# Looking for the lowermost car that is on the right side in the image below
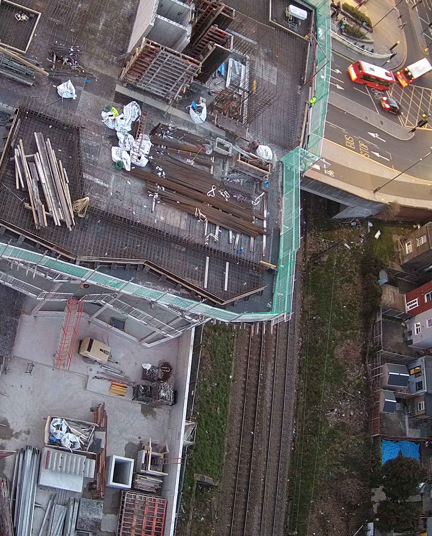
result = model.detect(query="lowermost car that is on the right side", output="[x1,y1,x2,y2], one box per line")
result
[384,101,406,117]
